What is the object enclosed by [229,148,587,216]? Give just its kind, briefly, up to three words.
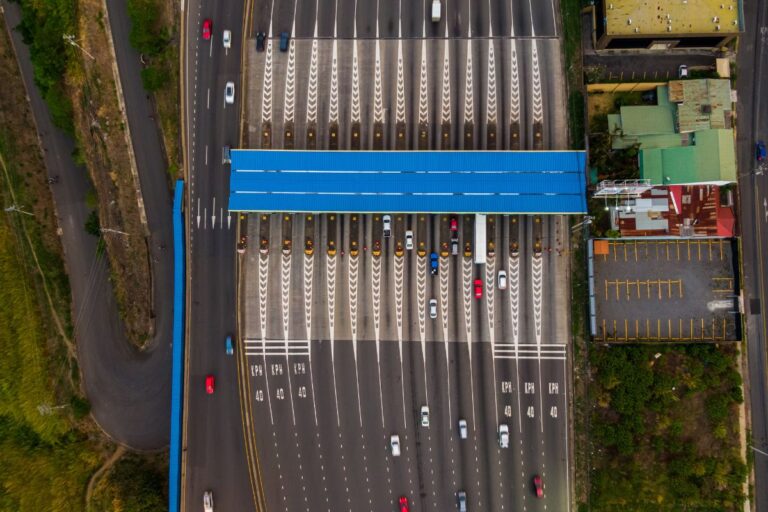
toll station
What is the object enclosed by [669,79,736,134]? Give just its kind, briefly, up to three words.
house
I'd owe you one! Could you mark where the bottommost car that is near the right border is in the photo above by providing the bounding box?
[754,142,766,161]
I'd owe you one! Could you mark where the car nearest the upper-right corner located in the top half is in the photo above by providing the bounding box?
[677,64,689,80]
